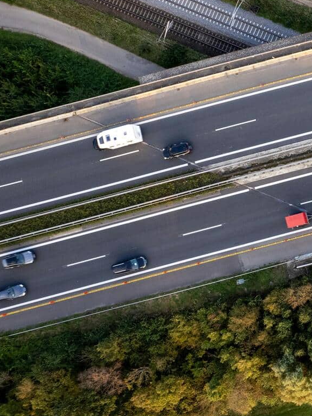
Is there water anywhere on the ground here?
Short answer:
No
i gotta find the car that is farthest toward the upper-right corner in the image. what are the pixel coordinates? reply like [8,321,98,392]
[163,141,194,159]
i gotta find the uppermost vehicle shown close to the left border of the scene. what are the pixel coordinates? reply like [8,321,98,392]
[2,249,37,269]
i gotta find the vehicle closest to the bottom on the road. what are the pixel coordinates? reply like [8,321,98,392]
[0,283,28,302]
